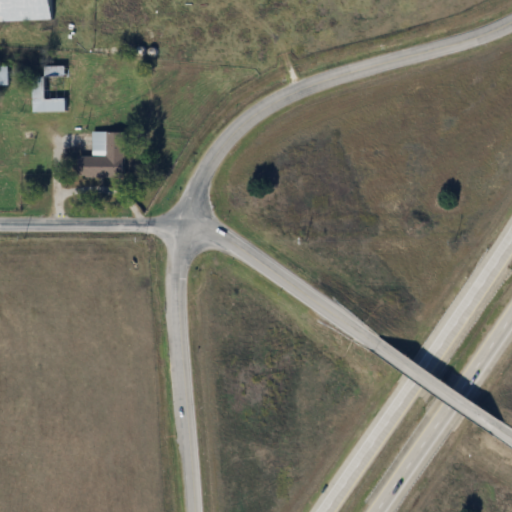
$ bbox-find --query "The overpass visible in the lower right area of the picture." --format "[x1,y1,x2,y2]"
[371,336,509,438]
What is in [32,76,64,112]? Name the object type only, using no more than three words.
shed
